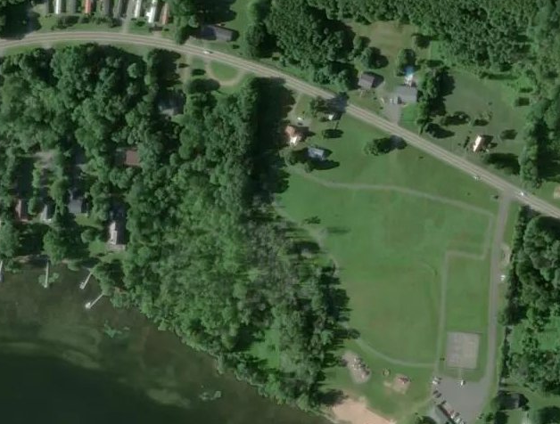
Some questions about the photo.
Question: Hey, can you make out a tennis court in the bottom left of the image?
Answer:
No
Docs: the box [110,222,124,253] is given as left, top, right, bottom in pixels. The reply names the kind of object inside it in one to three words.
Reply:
house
